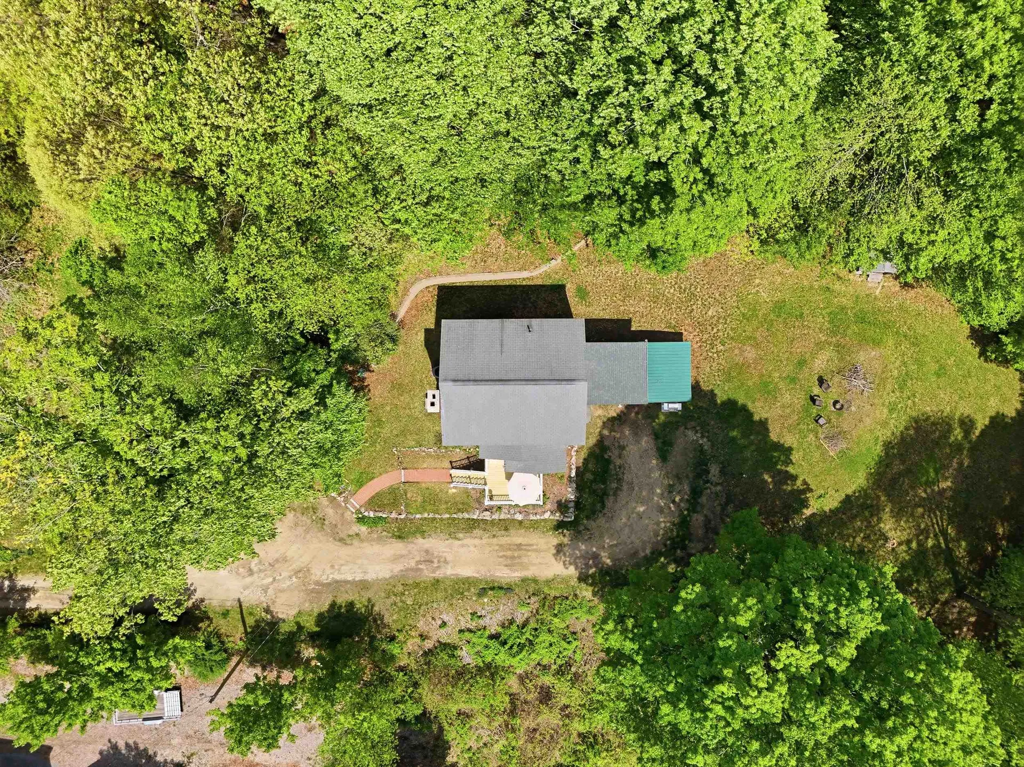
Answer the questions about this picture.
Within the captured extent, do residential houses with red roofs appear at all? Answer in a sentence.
No, there appears to be no residential house with a red roof in this shot.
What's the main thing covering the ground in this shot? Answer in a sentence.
For the most part, this view shows trees.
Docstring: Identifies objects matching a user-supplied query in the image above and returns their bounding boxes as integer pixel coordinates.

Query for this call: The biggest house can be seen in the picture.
[425,318,588,447]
